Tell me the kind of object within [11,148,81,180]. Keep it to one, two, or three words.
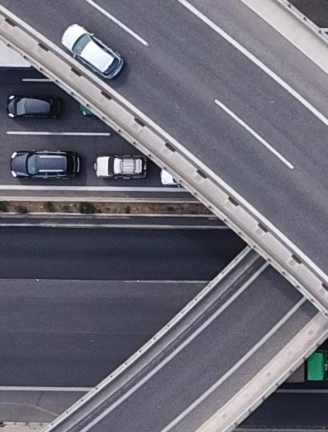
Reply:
car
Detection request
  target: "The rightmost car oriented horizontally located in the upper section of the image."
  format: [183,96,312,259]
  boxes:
[94,153,149,180]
